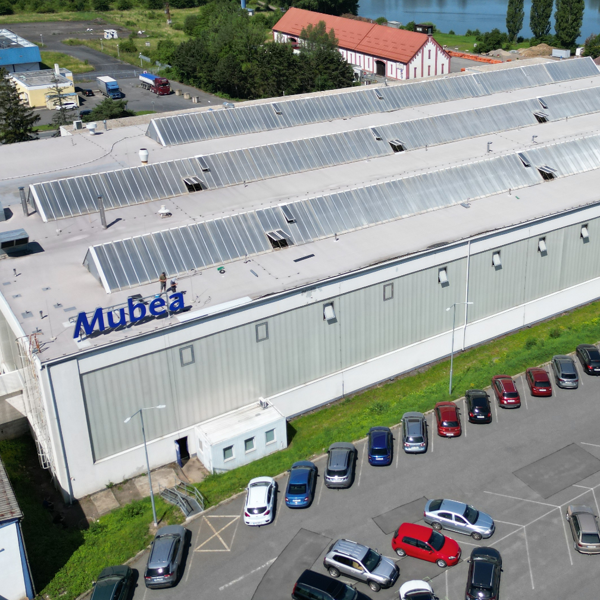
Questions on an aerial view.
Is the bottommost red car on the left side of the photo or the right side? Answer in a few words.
right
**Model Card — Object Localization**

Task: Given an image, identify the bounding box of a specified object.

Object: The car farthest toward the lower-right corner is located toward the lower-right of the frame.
[565,500,600,551]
